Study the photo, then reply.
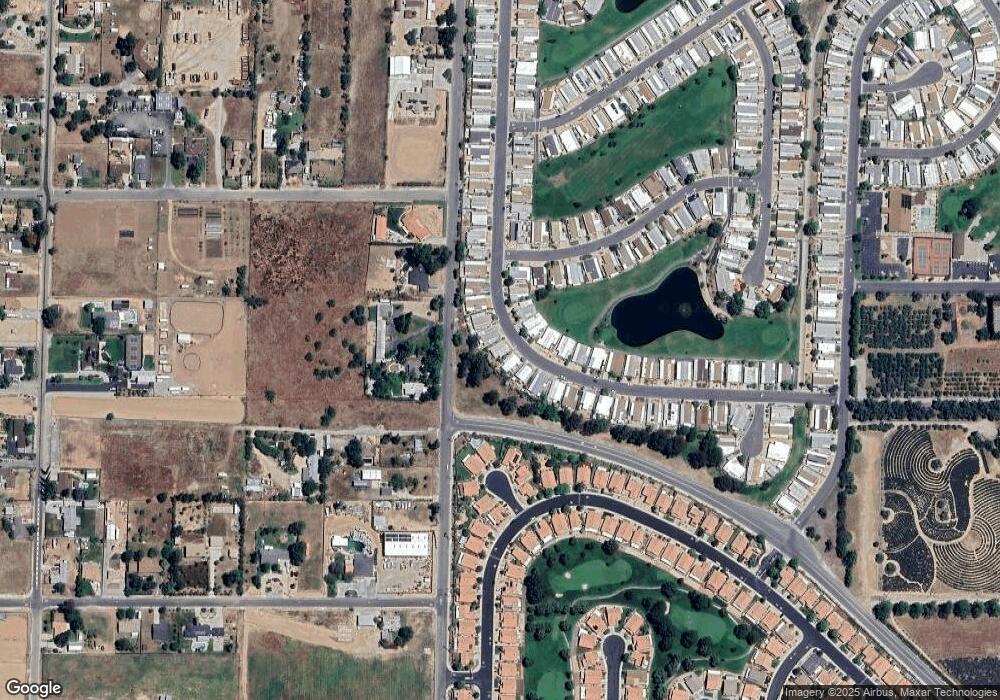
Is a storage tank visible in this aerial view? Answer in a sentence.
No, there isn't any storage tank down there.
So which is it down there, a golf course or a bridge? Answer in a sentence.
Looking from above, you can make out a golf course.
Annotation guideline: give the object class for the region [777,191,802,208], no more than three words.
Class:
house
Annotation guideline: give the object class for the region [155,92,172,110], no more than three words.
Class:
building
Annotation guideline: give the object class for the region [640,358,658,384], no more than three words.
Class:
house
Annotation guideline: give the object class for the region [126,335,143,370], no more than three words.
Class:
barn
